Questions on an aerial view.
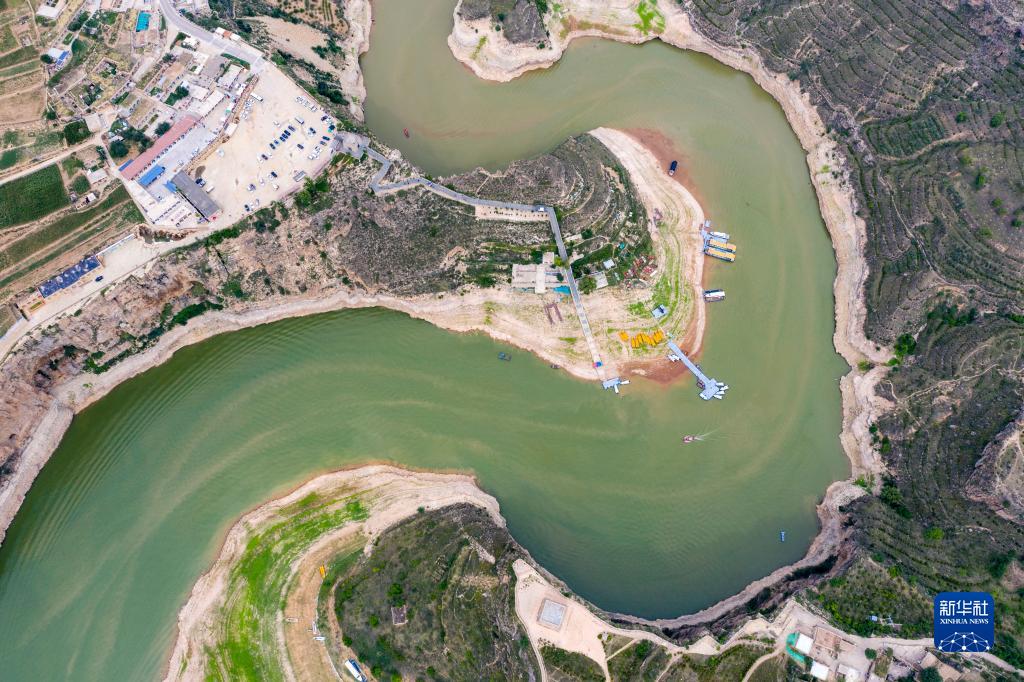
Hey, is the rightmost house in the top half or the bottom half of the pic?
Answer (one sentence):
Seen from above, the rightmost house lies in the bottom half of the view.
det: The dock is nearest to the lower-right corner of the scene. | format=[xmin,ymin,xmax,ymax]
[667,341,719,400]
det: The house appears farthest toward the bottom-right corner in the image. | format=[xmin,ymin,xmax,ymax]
[918,651,961,681]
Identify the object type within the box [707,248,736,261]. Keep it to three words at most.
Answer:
boat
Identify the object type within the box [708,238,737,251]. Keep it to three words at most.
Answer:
boat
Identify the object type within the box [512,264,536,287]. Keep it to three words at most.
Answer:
house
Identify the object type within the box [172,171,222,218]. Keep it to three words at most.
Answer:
barn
